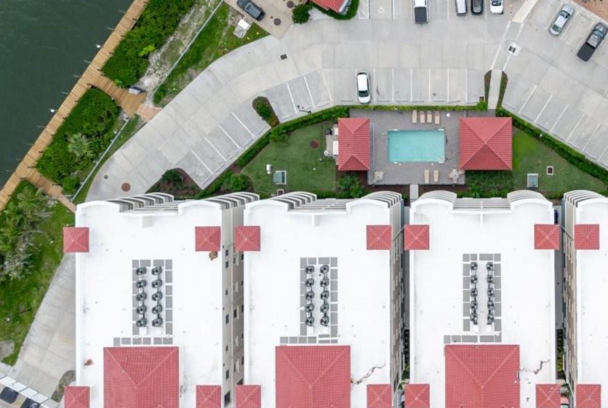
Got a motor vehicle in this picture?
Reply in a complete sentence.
Yes, a motor vehicle appears in the view.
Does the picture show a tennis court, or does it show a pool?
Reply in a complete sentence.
This aerial view contains a pool.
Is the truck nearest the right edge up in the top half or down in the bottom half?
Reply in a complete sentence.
The truck nearest the right edge is in the top half of the image.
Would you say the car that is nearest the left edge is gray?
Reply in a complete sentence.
Yes, the car that is nearest the left edge is gray.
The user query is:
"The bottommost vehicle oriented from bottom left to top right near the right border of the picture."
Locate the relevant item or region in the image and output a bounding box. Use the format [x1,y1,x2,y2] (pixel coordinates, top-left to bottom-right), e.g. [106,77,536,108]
[576,22,608,63]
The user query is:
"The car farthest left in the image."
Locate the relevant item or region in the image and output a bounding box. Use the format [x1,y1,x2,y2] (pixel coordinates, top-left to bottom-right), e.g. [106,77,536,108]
[234,0,268,23]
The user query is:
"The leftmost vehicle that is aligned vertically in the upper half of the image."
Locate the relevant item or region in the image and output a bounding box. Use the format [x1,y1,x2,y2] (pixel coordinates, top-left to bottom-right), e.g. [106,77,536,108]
[356,70,372,106]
